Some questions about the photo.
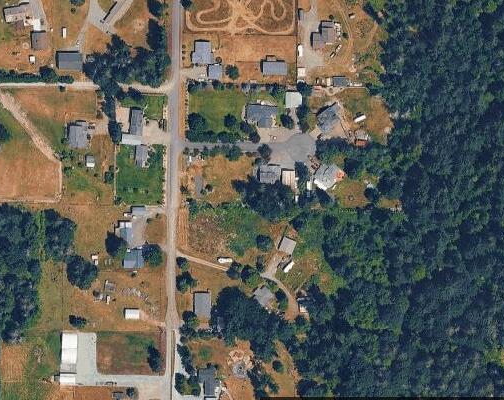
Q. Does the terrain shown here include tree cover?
Yes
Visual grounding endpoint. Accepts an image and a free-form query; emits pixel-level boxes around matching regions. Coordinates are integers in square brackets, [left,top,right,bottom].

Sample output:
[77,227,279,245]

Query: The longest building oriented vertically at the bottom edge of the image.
[60,333,77,385]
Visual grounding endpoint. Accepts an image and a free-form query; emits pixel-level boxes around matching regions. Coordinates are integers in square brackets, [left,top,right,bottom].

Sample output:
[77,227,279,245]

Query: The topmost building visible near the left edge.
[4,4,32,29]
